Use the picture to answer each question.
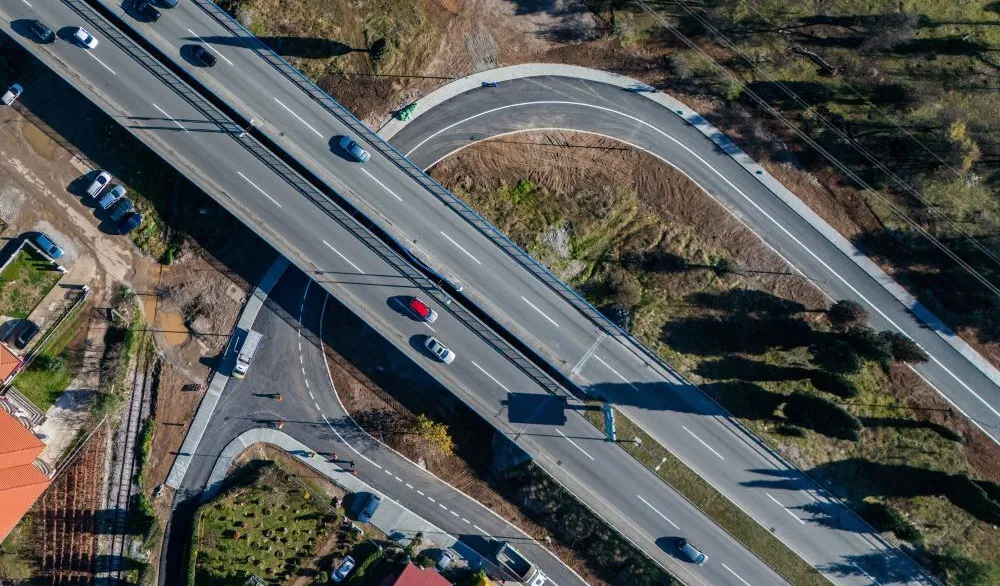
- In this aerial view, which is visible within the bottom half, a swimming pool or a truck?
truck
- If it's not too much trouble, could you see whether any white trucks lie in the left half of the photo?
Yes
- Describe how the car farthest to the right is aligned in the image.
at an angle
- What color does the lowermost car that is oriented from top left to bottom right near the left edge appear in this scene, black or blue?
blue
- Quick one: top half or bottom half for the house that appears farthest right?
bottom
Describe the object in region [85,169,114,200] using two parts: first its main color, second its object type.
white car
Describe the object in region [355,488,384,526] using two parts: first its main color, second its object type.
blue car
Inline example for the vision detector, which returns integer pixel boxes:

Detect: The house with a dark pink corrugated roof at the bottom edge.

[389,552,455,586]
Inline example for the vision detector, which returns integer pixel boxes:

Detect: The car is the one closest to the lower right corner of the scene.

[675,536,709,565]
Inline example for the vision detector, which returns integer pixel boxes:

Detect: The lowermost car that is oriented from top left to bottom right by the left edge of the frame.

[32,231,67,261]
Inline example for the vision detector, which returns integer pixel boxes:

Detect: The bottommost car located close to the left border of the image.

[14,318,44,348]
